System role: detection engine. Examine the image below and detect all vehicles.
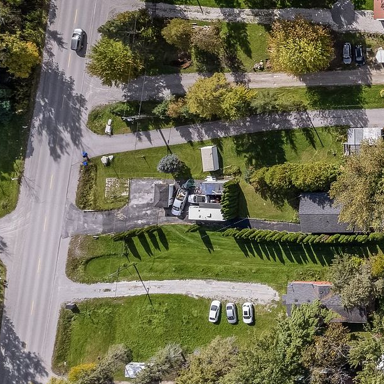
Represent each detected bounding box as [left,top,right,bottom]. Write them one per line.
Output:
[342,42,353,64]
[241,301,254,325]
[225,301,237,325]
[185,194,212,205]
[354,43,364,64]
[172,187,189,216]
[208,299,221,323]
[70,27,85,50]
